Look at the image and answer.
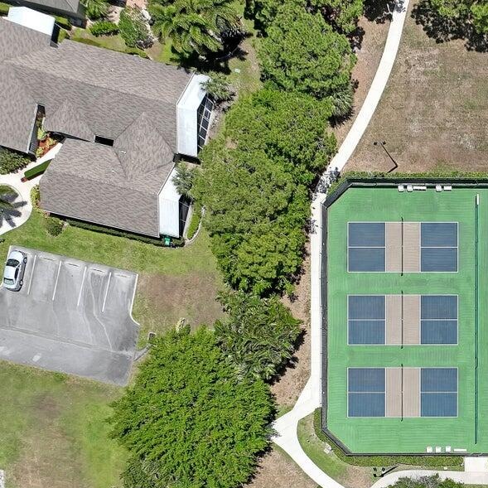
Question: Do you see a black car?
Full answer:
No, there's no black car here.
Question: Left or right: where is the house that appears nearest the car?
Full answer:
It is on the left.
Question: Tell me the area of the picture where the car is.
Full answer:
The car sits in the left section of the image.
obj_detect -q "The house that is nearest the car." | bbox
[0,6,216,237]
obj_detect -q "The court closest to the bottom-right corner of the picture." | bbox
[347,367,458,417]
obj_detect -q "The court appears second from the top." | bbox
[347,294,458,345]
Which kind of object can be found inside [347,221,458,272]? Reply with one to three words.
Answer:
sports court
